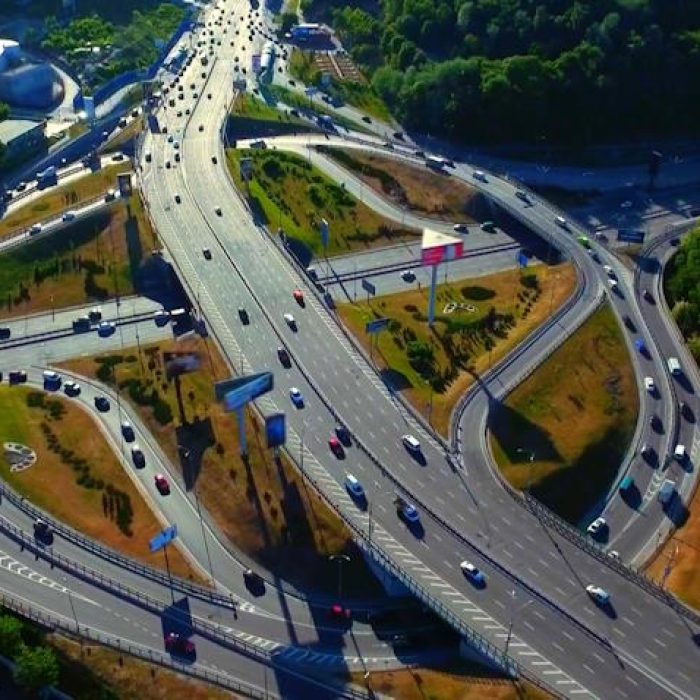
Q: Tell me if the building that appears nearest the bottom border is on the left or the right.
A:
left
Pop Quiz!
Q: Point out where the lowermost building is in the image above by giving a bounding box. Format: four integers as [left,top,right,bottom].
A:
[0,116,50,170]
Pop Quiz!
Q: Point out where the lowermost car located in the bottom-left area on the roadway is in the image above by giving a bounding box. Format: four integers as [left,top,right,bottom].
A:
[163,632,193,653]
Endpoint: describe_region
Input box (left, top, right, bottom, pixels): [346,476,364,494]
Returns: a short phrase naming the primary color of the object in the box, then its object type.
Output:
blue car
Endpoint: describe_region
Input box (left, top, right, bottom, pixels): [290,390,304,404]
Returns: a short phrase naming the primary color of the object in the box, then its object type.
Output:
blue vehicle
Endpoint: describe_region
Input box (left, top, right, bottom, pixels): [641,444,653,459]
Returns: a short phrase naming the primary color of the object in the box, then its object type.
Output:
black vehicle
